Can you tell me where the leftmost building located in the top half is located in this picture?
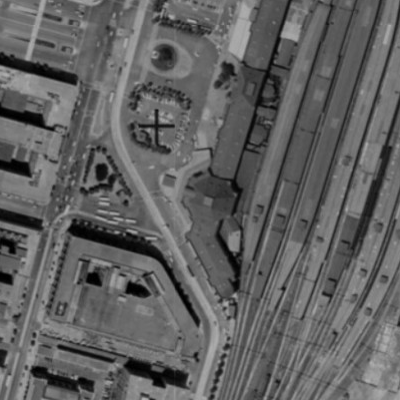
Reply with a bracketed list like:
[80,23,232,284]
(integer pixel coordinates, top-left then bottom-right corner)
[0,66,78,205]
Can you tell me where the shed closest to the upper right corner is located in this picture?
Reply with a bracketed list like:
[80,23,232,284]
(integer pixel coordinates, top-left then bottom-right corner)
[282,5,308,42]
